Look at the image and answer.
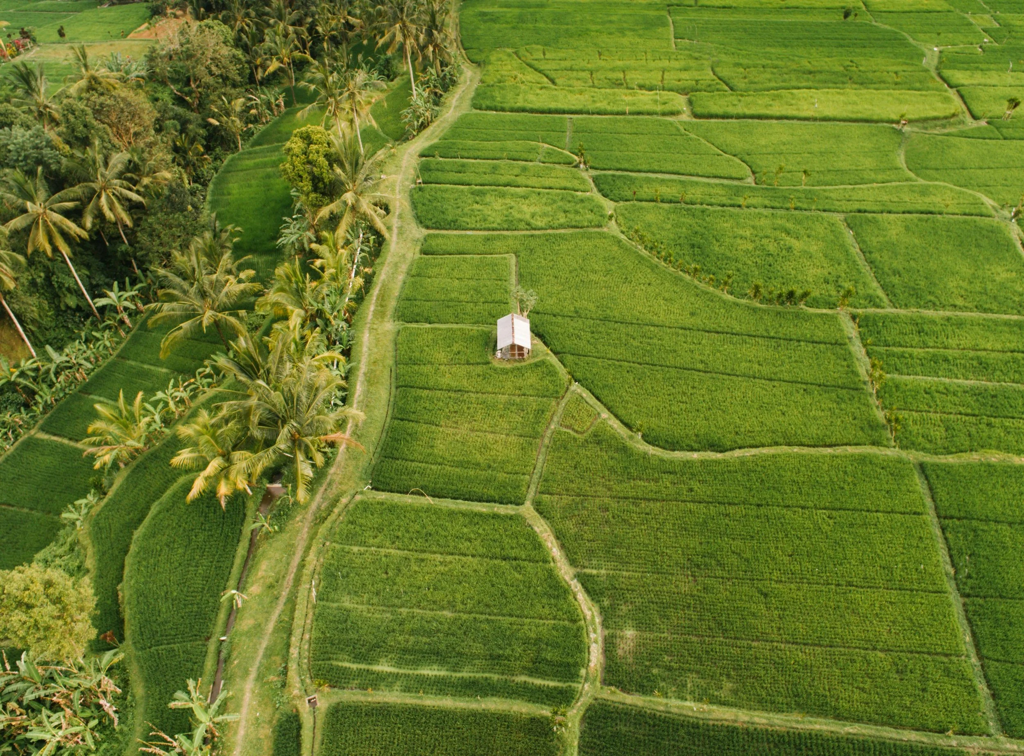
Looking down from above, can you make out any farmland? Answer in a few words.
Yes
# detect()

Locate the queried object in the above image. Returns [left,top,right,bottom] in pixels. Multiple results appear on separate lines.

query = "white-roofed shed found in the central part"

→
[496,308,532,357]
